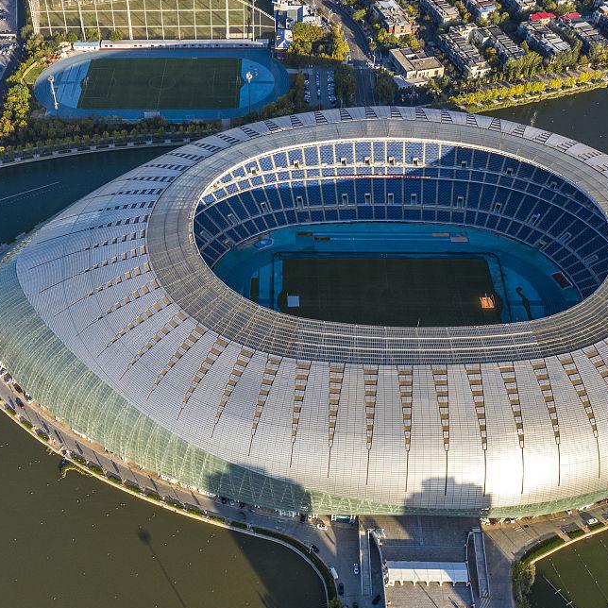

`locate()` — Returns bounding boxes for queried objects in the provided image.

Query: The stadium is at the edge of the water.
[0,107,608,525]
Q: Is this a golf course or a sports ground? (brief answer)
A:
sports ground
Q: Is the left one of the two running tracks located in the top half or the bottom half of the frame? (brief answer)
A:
top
